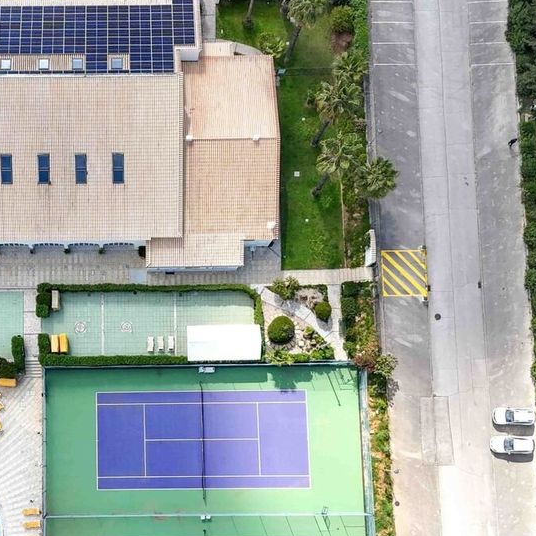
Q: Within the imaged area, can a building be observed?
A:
Yes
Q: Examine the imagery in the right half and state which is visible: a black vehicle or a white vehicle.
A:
white vehicle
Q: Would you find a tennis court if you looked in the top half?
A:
No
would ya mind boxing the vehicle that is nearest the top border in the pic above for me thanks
[492,408,536,428]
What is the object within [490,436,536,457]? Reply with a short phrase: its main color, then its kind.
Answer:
white car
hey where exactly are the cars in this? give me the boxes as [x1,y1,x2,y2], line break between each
[490,436,536,457]
[492,408,536,428]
